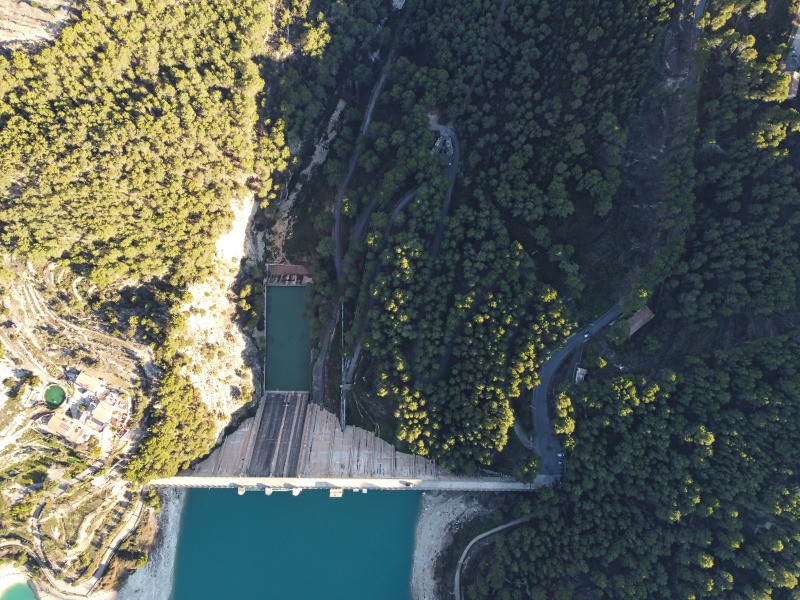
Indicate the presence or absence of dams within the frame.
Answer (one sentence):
Yes, a dam can be made out from above.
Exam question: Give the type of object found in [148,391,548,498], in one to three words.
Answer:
dam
